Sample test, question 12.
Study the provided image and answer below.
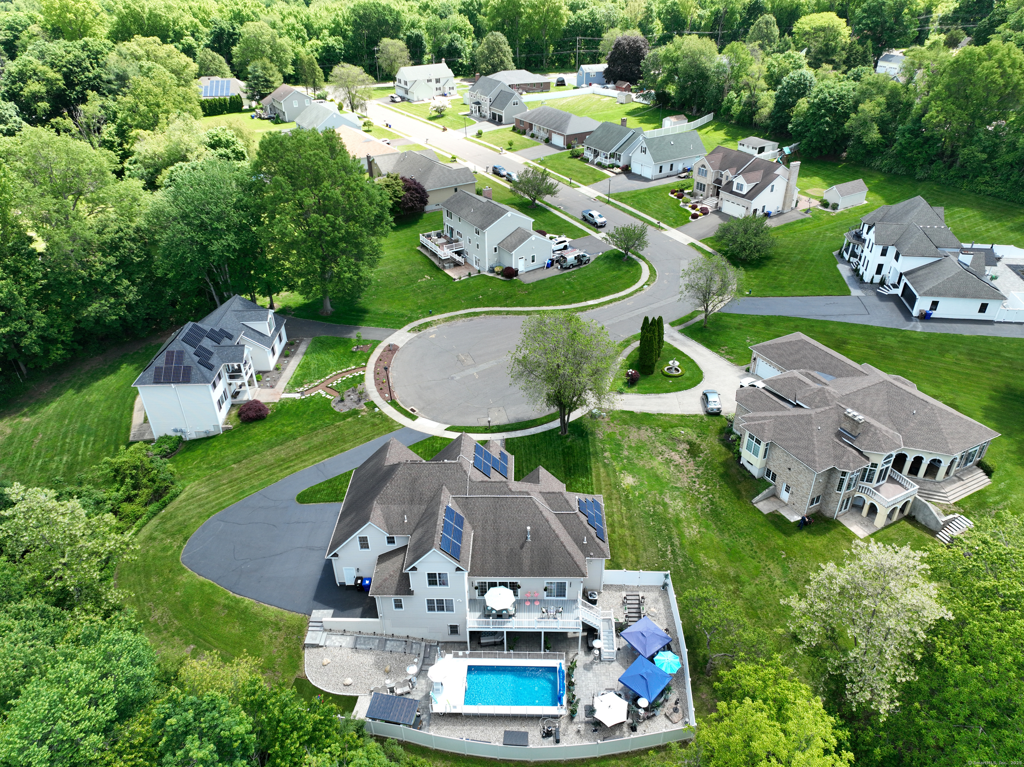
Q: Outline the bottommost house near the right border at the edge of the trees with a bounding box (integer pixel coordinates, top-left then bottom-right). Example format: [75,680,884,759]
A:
[725,332,1002,544]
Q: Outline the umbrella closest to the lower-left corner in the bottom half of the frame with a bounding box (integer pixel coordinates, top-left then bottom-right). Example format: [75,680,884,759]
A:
[426,664,455,690]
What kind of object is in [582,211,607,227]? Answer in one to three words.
vehicle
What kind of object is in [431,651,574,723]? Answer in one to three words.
swimming pool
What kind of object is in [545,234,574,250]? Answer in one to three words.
car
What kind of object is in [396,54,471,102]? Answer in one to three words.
house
